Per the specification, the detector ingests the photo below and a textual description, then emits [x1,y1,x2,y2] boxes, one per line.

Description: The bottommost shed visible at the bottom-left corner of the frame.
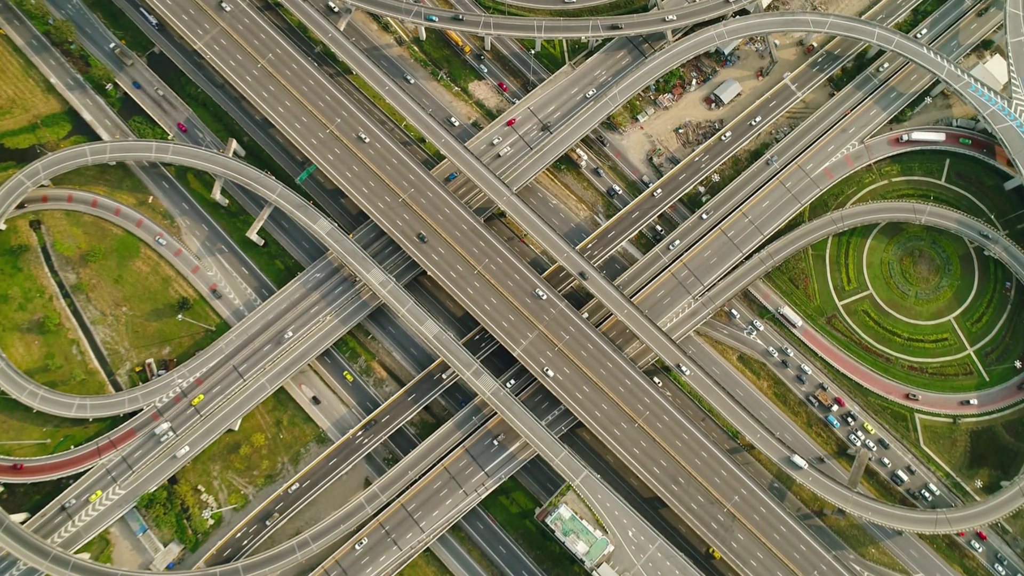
[150,540,184,572]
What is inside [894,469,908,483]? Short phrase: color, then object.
white vehicle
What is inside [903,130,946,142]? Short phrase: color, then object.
white vehicle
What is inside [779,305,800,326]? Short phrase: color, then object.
white truck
